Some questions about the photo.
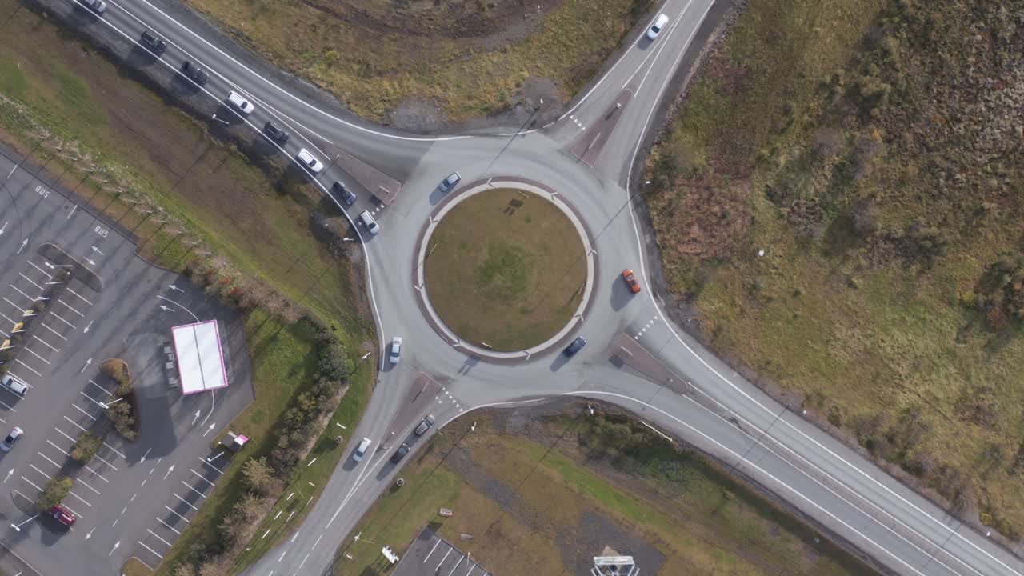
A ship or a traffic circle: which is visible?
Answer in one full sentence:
There is a traffic circle in the scene.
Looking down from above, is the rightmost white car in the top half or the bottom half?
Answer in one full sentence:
The rightmost white car is in the top half of the image.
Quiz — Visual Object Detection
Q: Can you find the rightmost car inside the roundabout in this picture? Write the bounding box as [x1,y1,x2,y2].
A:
[622,268,640,294]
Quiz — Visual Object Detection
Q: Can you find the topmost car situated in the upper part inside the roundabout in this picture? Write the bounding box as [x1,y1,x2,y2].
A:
[439,171,461,192]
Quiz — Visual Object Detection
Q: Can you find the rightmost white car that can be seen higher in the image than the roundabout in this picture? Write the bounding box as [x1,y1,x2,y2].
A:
[647,12,669,41]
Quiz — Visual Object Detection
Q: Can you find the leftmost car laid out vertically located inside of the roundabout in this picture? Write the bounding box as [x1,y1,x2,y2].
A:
[389,337,403,364]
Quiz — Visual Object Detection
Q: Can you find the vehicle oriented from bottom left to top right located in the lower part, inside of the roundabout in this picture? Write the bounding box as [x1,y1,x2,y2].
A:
[563,336,585,358]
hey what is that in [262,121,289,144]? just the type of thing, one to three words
car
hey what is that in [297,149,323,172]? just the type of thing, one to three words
car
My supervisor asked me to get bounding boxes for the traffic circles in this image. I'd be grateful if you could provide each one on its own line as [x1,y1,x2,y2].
[357,118,659,412]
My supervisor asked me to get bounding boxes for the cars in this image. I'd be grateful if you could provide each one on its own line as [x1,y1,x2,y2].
[139,30,169,54]
[333,180,357,205]
[262,121,289,144]
[647,12,669,41]
[2,374,30,395]
[226,90,255,114]
[413,412,437,437]
[389,337,403,364]
[563,336,585,358]
[353,435,373,462]
[50,507,78,527]
[181,61,210,85]
[439,171,461,192]
[622,268,640,294]
[297,149,323,172]
[389,442,411,465]
[81,0,109,14]
[359,209,381,235]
